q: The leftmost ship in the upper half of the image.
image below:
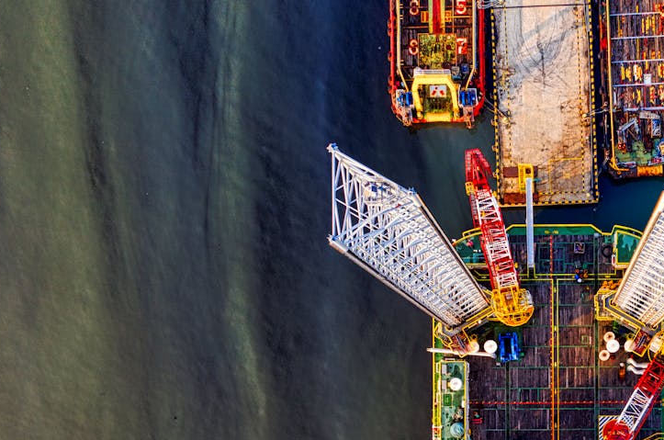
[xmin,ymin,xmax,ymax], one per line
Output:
[386,0,485,126]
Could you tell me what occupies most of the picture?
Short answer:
water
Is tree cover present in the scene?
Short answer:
No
